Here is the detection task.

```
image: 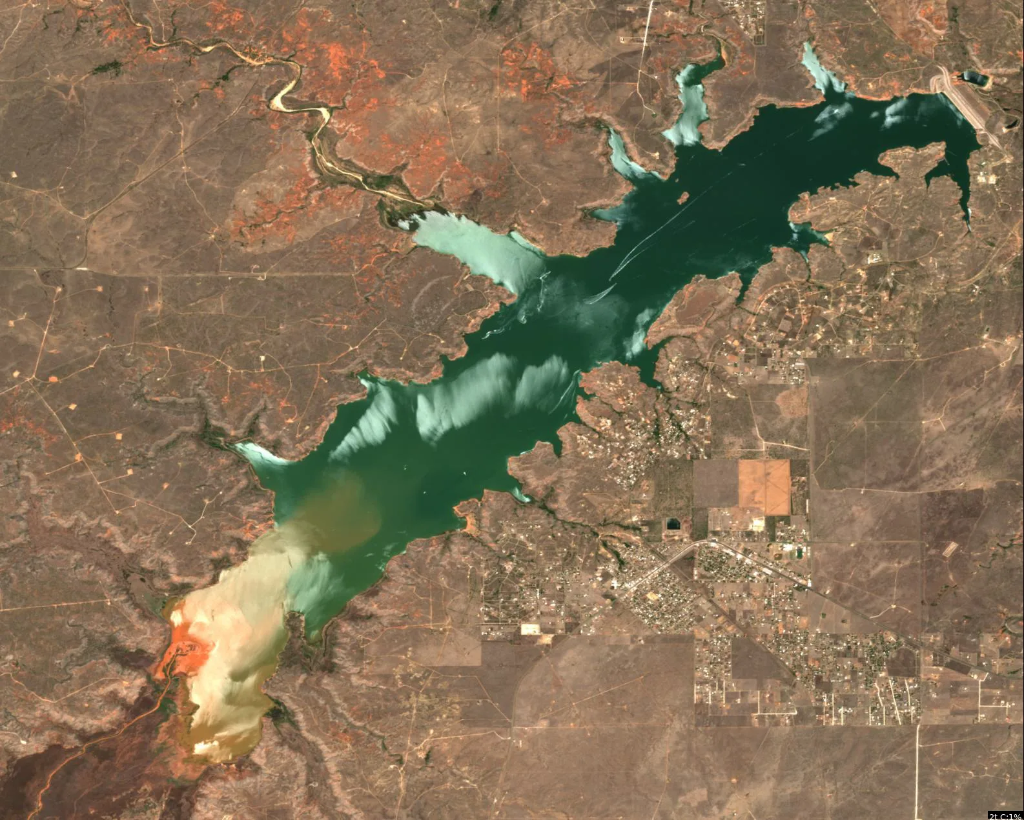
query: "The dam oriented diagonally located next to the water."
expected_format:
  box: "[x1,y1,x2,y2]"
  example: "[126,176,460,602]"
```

[931,63,1008,159]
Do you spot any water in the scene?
Yes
